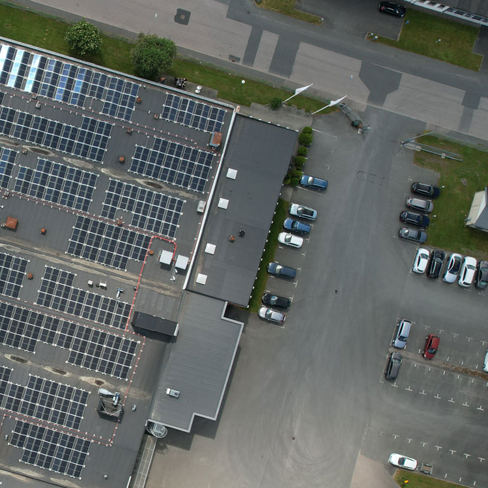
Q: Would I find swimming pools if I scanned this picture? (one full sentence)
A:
No, there appears to be no swimming pool in this shot.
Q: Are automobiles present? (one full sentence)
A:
Yes, the image includes an automobile.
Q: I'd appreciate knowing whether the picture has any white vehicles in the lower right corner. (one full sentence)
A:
Yes, I can see a white vehicle in the lower right corner.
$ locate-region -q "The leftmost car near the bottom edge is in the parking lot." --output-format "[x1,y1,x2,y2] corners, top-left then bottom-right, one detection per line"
[388,452,420,471]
